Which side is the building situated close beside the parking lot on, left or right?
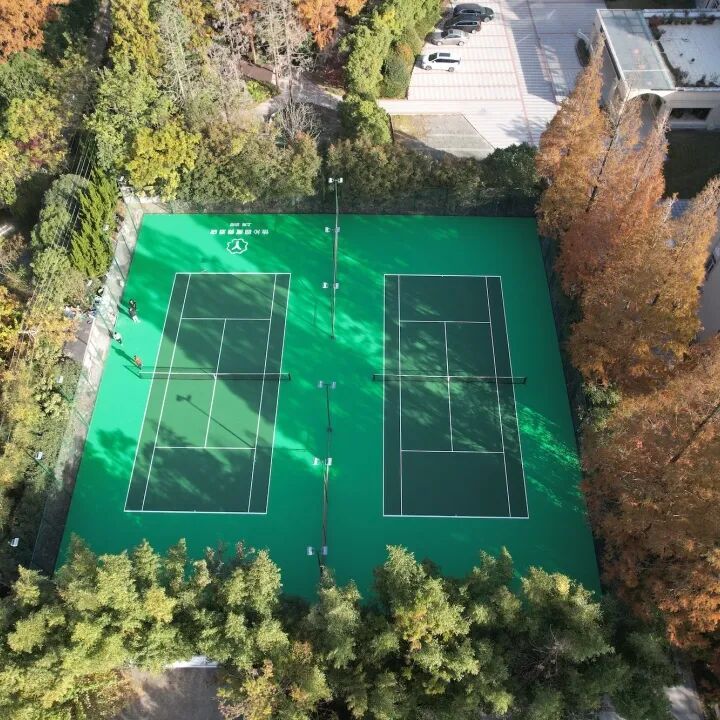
right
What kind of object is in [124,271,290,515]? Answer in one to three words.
tennis court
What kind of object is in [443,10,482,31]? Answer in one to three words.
car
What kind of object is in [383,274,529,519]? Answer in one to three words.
tennis court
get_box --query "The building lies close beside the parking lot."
[586,8,720,129]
